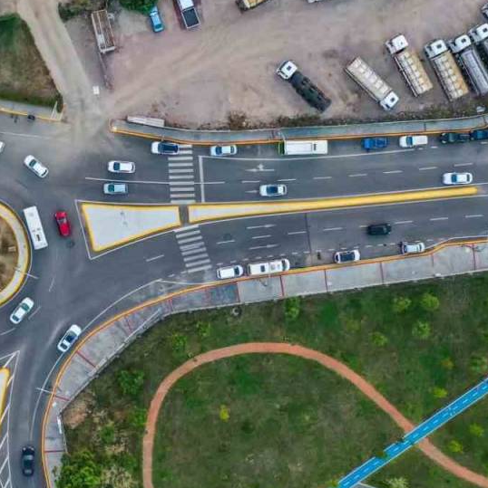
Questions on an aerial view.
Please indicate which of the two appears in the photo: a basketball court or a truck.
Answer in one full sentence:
I can see a truck in this picture.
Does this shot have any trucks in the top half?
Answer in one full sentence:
Yes, the scene does show a truck in the top half.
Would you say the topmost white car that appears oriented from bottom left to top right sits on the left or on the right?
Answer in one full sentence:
The topmost white car that appears oriented from bottom left to top right appears in the left half of the scene.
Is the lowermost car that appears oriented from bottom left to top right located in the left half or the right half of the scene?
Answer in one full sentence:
The lowermost car that appears oriented from bottom left to top right sits on the left side.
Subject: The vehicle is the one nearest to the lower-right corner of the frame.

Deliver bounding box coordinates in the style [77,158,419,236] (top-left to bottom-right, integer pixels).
[397,240,423,255]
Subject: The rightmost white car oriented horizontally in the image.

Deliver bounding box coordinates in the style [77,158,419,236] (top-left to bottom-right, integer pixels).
[440,171,472,186]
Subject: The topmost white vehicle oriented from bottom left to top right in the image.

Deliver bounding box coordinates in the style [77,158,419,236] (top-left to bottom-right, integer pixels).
[9,297,35,325]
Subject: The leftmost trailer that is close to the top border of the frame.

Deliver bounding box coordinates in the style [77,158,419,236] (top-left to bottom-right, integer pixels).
[91,9,117,72]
